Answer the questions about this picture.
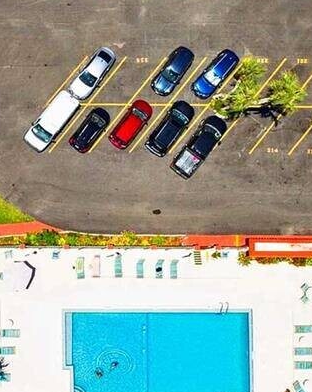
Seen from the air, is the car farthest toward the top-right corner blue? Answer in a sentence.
Yes, the car farthest toward the top-right corner is blue.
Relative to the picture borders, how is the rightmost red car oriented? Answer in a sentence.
From this overhead view, the rightmost red car appears to run at an angle.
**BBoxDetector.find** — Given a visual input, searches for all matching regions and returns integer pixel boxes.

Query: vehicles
[190,47,240,101]
[66,105,111,156]
[69,45,118,102]
[168,116,226,182]
[26,90,80,152]
[148,42,197,99]
[105,99,152,152]
[143,101,193,158]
